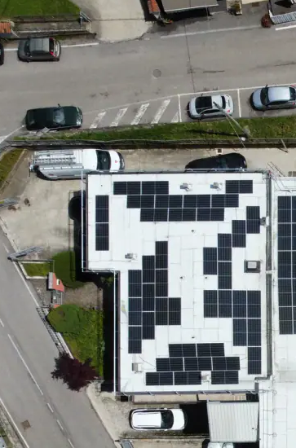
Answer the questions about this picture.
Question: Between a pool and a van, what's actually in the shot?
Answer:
van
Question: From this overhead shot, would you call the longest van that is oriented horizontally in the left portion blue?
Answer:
No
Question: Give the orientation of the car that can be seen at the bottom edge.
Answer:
from left to right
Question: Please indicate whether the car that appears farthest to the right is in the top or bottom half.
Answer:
top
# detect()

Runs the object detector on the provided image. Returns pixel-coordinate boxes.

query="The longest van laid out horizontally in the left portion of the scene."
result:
[30,150,129,184]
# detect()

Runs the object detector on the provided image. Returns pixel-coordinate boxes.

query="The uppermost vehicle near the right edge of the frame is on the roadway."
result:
[251,85,296,114]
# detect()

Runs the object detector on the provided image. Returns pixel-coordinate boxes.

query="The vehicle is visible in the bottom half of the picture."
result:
[130,407,187,432]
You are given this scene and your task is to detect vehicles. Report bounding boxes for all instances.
[187,94,236,121]
[187,152,249,171]
[19,36,63,64]
[24,104,87,133]
[30,150,129,184]
[130,407,187,432]
[251,85,296,114]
